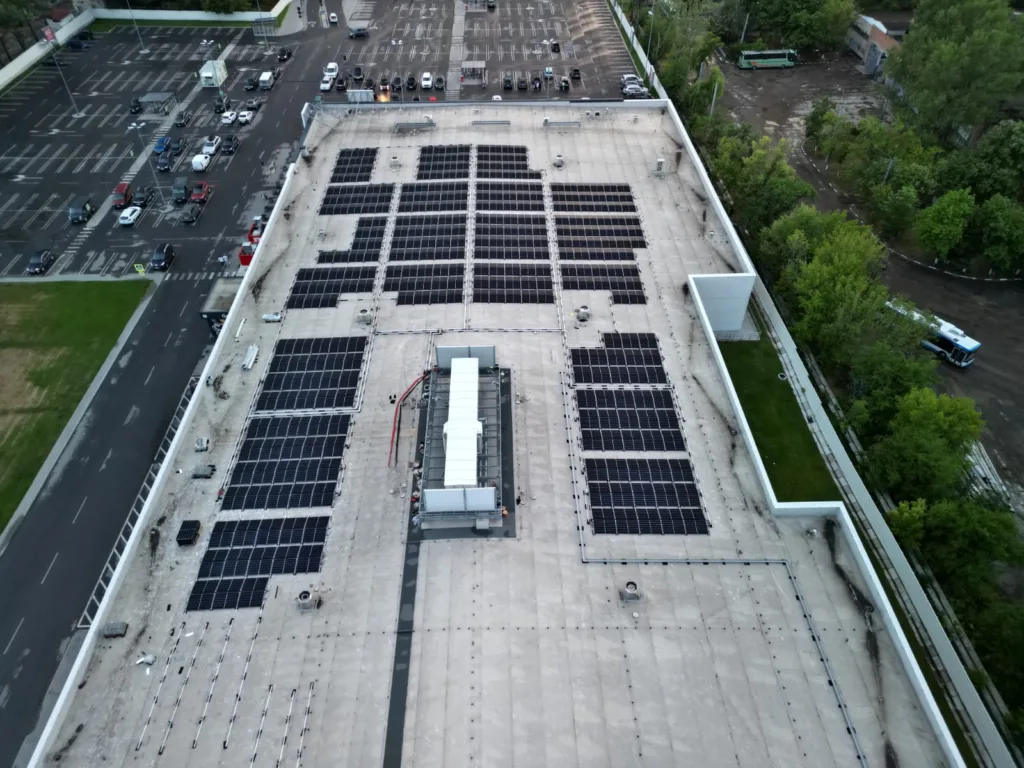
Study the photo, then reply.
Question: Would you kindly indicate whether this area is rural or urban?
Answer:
urban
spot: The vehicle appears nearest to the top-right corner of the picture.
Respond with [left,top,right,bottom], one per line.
[738,46,801,67]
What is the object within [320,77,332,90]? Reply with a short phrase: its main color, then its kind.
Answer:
white vehicle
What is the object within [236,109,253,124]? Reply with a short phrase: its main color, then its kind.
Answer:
white car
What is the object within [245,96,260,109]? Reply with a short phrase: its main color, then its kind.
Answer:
gray vehicle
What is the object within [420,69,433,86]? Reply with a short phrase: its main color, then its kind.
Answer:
white vehicle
